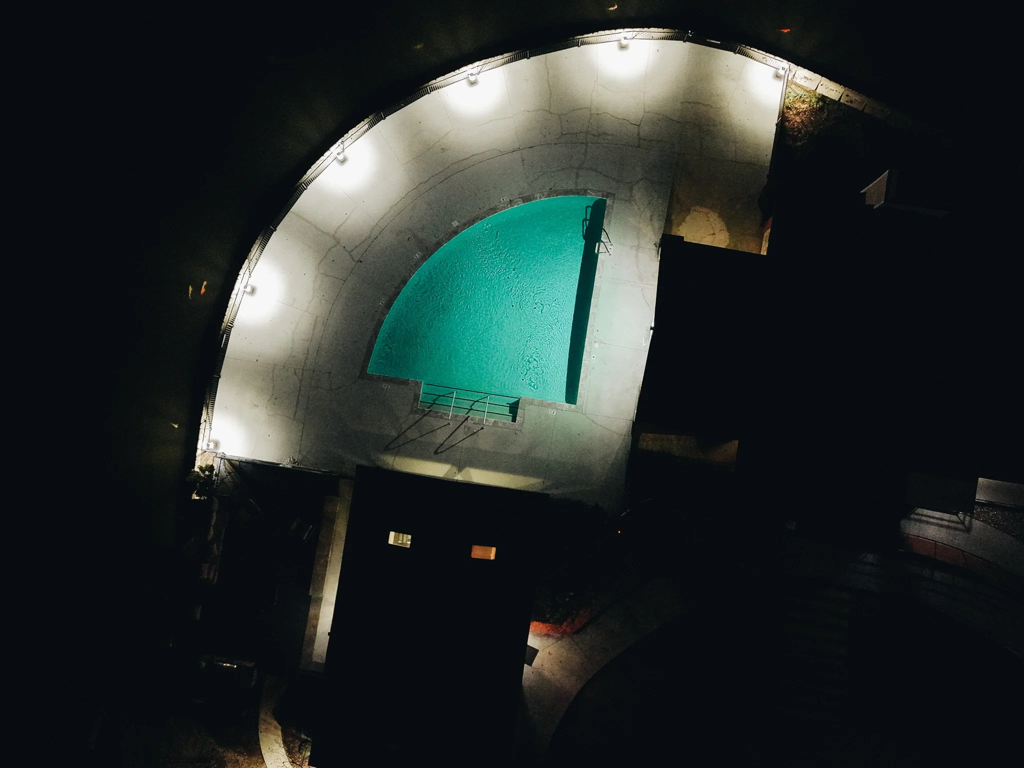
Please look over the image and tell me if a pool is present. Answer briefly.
Yes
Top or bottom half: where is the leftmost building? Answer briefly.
bottom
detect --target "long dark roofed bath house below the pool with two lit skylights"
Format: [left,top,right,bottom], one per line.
[309,465,550,768]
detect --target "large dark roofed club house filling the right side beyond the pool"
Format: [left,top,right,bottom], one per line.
[633,234,1024,521]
